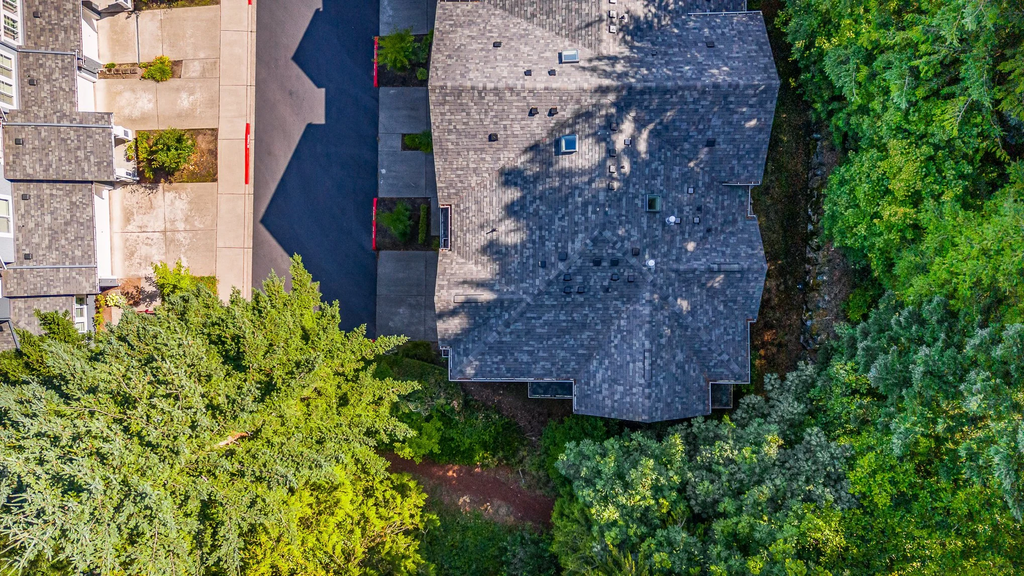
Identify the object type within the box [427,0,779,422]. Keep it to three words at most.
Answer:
building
